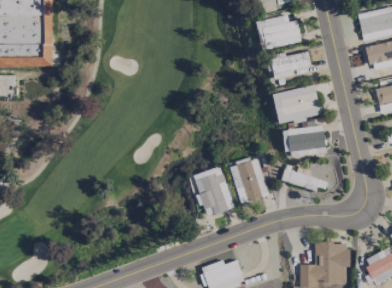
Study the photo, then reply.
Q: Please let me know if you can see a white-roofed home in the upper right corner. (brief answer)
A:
Yes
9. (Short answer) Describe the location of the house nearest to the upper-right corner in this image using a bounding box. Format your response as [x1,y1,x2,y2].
[358,6,392,41]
